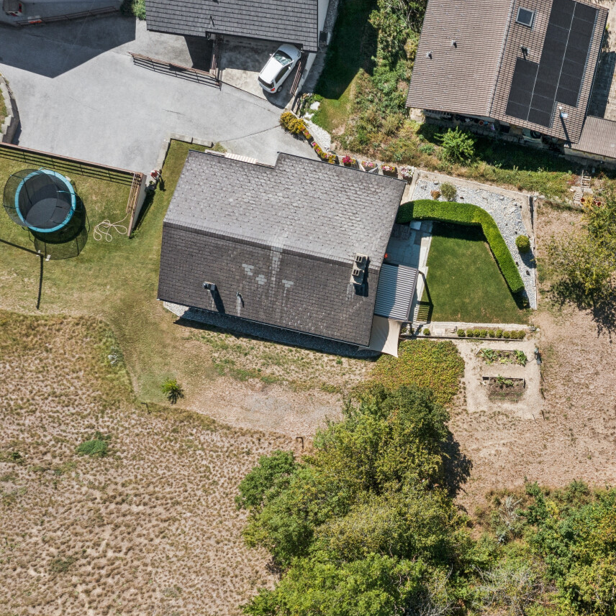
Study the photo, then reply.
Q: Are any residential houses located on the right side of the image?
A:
Yes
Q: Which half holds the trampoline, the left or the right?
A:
left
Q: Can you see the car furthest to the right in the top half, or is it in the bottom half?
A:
top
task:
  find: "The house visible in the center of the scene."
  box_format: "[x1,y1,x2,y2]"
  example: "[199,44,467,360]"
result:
[157,148,406,350]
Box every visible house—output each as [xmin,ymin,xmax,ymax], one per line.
[141,0,330,52]
[157,148,406,350]
[405,0,608,146]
